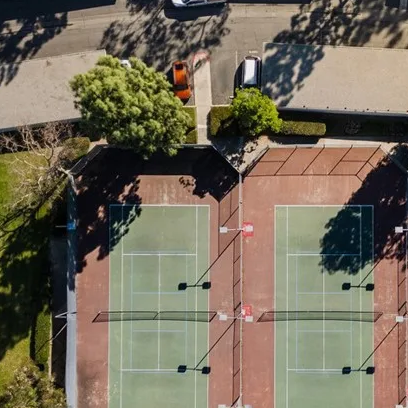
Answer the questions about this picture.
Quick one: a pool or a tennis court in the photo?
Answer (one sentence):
Of the two, only a tennis court appears.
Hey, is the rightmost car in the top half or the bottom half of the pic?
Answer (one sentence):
The top half of the photo is where the rightmost car is.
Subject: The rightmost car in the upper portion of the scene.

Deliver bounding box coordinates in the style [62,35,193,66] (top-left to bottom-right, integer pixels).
[240,55,261,95]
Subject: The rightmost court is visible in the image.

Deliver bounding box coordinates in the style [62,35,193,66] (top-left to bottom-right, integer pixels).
[245,150,407,408]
